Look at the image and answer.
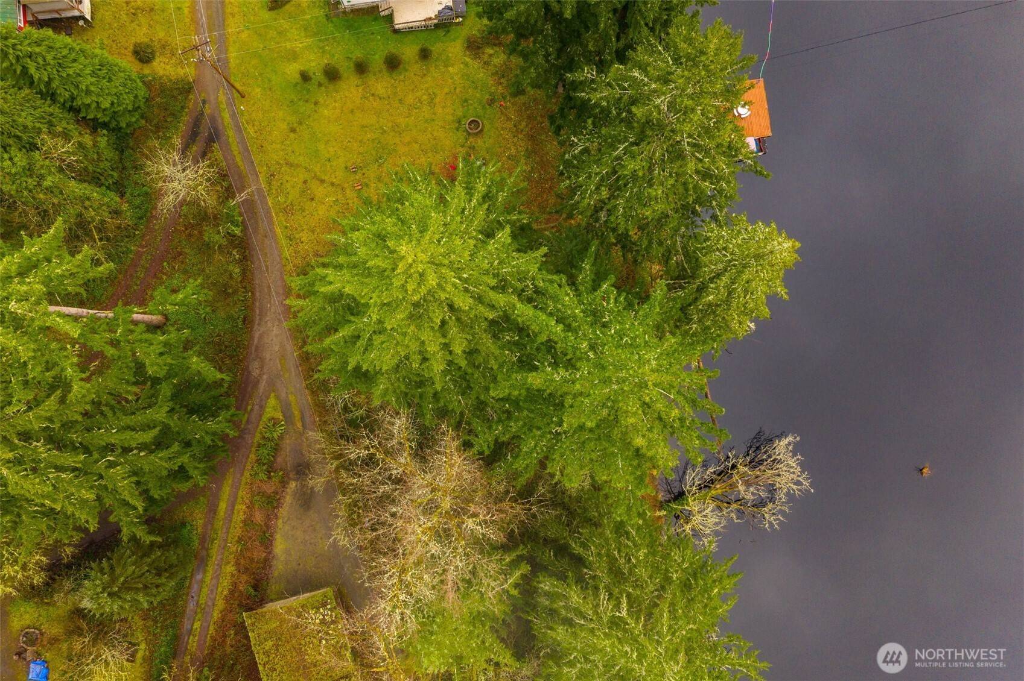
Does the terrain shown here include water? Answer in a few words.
Yes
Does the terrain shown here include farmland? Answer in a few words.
No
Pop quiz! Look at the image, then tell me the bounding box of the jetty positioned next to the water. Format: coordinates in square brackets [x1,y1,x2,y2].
[724,78,772,144]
